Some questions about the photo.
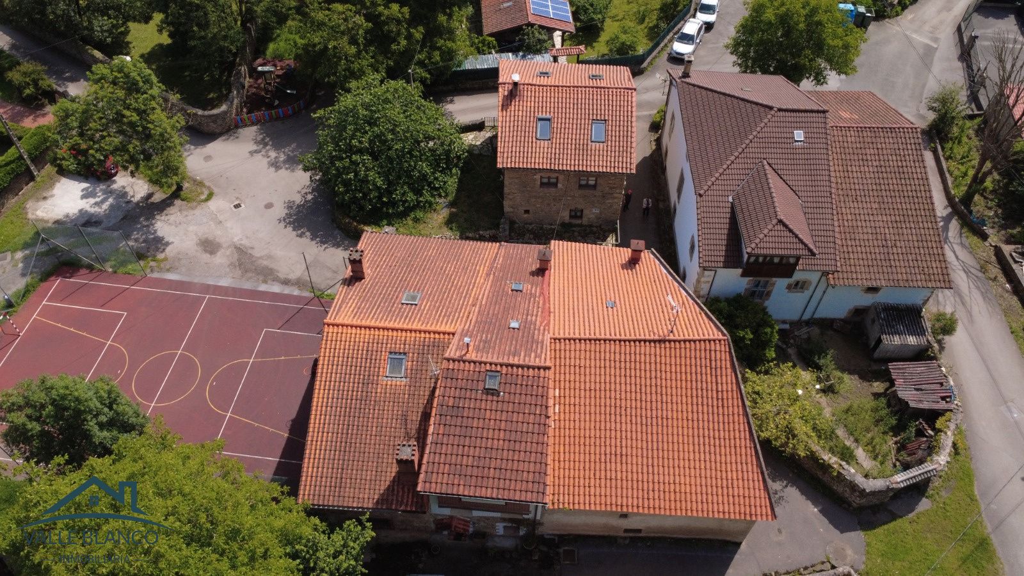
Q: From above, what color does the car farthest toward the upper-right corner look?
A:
white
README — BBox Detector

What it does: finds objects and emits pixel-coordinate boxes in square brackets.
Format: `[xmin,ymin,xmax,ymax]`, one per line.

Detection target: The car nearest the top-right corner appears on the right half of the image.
[696,0,725,28]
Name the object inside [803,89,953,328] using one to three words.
house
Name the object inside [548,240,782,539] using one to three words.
house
